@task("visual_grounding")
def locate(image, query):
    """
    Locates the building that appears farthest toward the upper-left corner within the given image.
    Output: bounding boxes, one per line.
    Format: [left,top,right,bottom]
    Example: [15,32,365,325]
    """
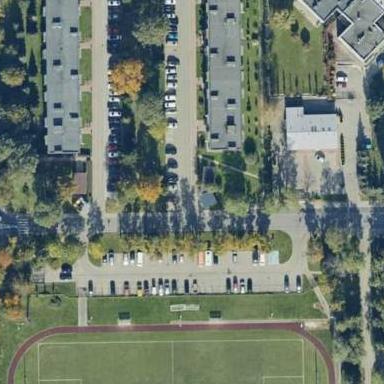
[43,0,83,153]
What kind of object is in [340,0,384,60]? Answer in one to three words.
building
